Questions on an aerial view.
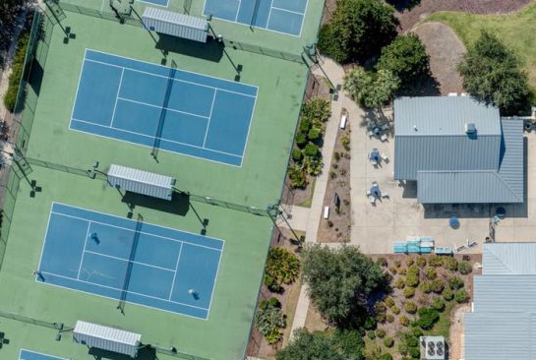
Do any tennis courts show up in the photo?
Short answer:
Yes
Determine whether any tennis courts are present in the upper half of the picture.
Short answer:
Yes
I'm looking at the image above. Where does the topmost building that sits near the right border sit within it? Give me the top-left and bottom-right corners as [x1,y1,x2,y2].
[394,97,523,203]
